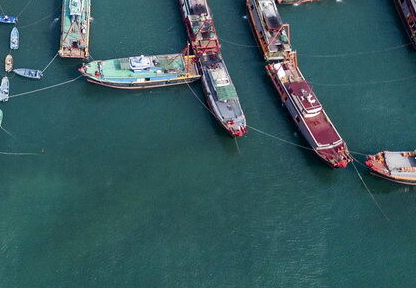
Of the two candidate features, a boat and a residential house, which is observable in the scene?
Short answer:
boat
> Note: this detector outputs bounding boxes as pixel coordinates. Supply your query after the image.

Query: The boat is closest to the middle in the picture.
[200,52,247,138]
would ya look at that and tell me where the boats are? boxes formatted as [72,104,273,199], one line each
[246,0,294,58]
[268,54,350,168]
[365,147,416,186]
[5,54,13,72]
[14,69,44,80]
[10,27,19,50]
[0,16,18,23]
[178,0,223,55]
[79,50,199,89]
[59,0,91,59]
[0,76,9,102]
[200,52,247,138]
[393,0,416,50]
